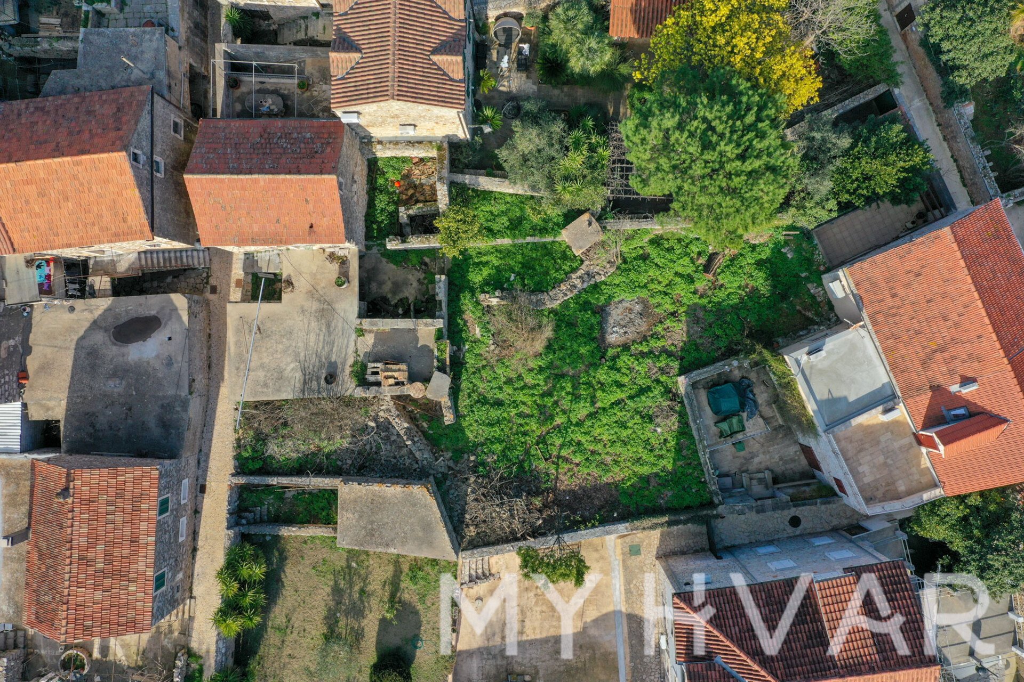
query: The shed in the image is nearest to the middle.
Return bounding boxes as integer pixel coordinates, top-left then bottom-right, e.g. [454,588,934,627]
[562,213,603,256]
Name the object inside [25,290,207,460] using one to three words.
building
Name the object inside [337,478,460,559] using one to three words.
building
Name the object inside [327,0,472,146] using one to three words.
house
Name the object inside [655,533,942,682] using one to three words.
house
